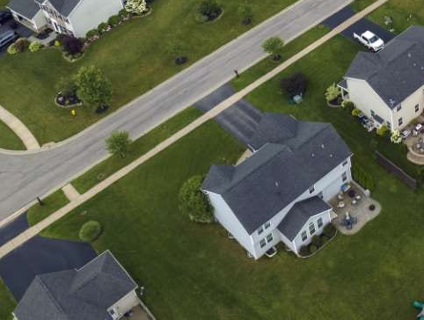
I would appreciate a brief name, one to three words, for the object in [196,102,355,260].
house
